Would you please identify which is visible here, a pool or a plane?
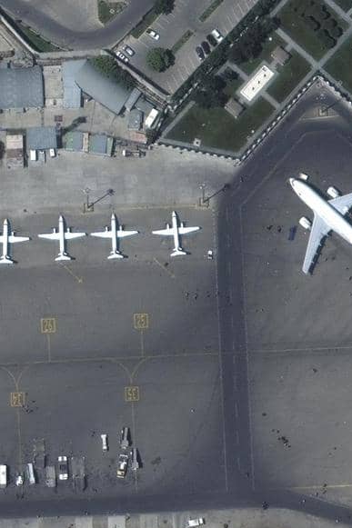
plane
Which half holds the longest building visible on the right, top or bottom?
top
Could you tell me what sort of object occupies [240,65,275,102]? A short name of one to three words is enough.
building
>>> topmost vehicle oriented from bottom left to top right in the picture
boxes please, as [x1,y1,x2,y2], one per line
[145,108,160,127]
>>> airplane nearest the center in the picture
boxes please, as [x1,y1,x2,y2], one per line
[154,212,199,255]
